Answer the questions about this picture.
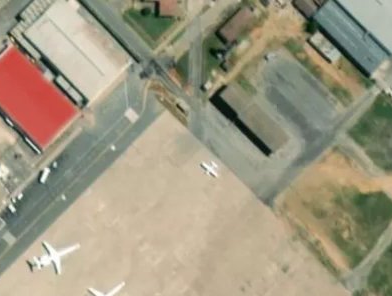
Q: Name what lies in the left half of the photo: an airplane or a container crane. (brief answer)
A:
airplane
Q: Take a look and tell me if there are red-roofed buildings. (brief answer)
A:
Yes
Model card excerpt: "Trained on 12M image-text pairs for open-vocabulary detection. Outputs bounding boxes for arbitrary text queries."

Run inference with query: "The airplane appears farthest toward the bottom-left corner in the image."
[32,240,81,276]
